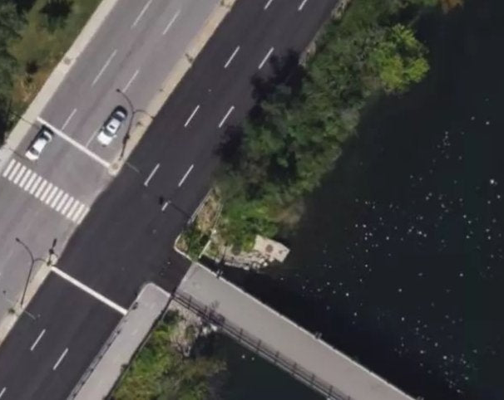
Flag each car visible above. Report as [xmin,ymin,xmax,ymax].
[26,129,54,162]
[97,107,128,144]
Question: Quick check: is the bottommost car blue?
No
